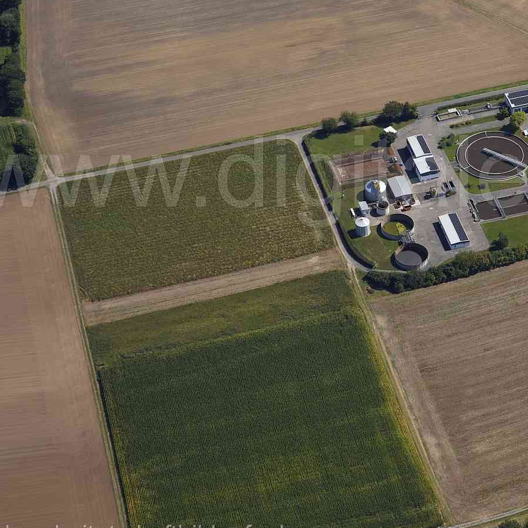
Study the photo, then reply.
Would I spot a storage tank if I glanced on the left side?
No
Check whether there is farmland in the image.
Yes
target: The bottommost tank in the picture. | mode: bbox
[394,242,428,271]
